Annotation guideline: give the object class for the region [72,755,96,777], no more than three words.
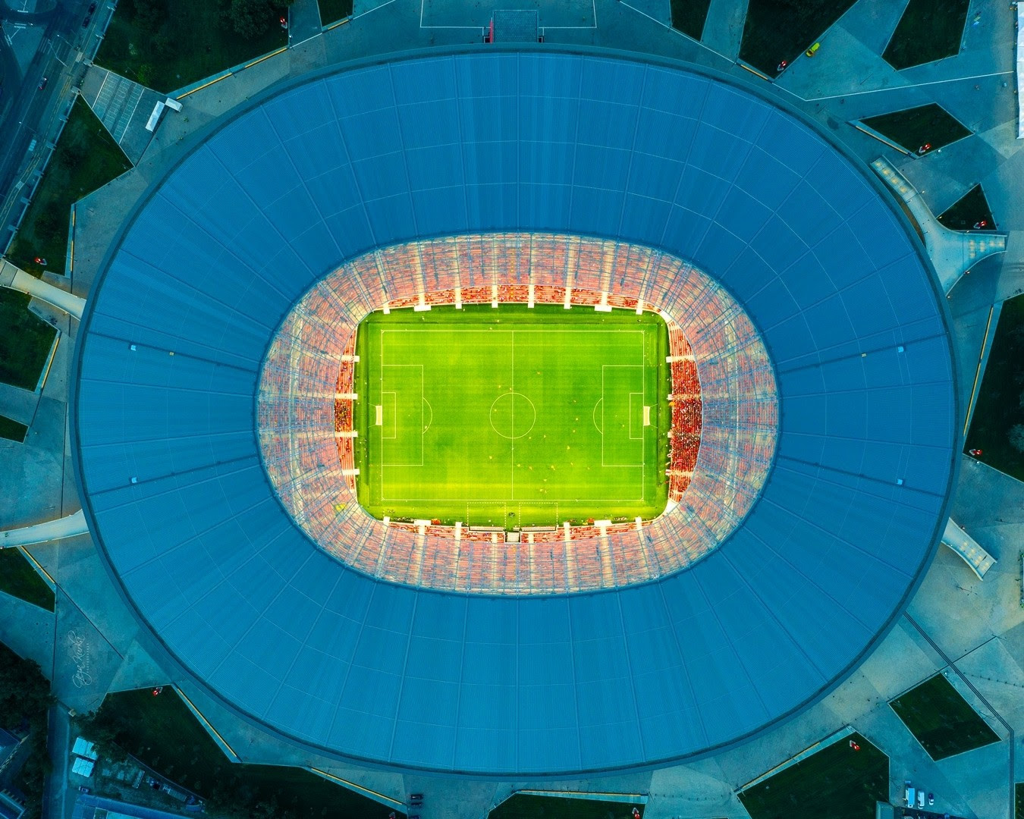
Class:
shed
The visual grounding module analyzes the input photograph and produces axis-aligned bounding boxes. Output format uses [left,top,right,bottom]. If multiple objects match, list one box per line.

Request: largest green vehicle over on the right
[806,41,822,57]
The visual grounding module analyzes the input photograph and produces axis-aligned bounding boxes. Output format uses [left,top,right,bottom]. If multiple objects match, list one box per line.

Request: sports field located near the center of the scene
[368,322,658,523]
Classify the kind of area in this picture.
sports ground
